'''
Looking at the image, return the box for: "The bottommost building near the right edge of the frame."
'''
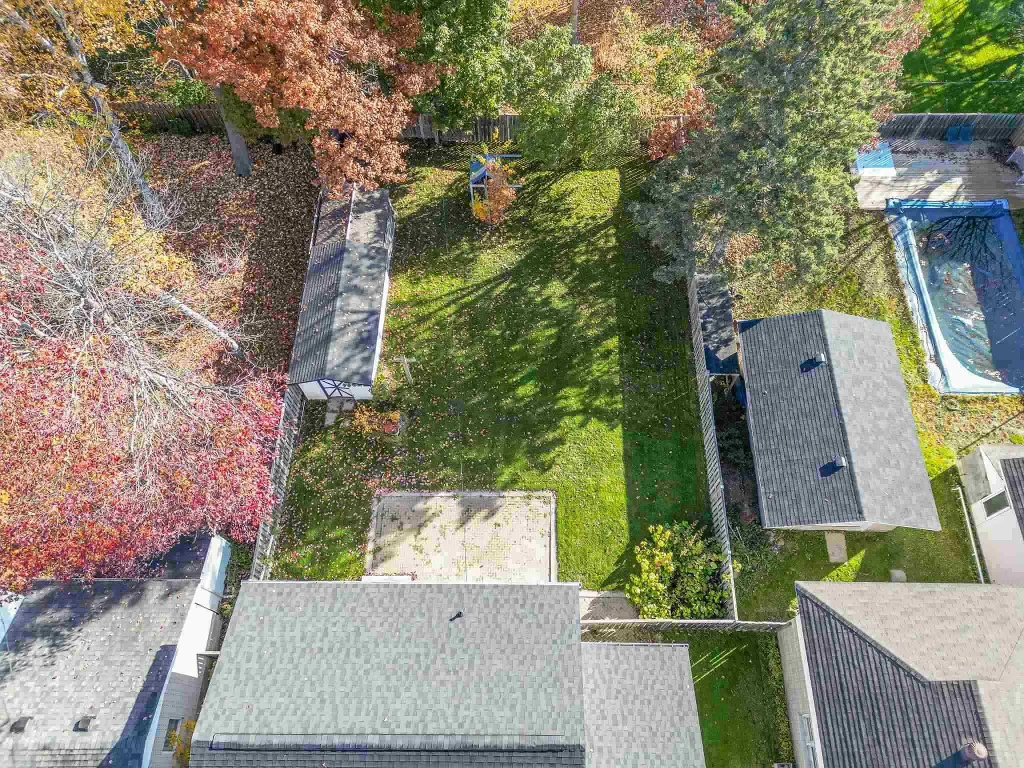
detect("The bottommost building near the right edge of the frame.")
[782,578,1024,768]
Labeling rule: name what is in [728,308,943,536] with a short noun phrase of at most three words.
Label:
building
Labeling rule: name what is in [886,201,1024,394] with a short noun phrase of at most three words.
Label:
swimming pool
